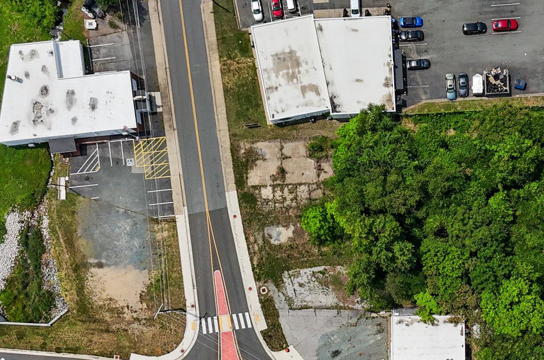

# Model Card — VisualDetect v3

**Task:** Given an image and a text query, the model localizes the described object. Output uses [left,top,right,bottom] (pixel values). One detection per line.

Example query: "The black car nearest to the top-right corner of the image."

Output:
[462,20,486,33]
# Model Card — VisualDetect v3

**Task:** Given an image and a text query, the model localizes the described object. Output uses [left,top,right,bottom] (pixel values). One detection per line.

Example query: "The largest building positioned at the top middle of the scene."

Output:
[250,14,396,127]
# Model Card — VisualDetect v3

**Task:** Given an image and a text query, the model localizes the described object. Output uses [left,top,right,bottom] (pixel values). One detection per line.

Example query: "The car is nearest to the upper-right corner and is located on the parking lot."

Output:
[492,17,519,31]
